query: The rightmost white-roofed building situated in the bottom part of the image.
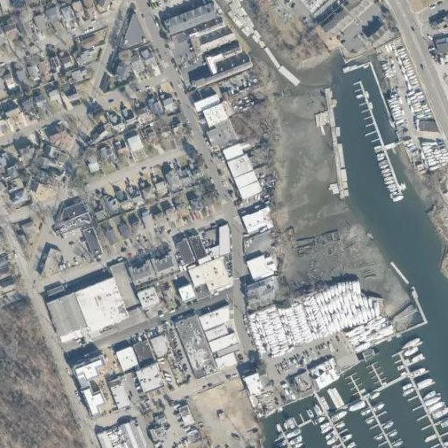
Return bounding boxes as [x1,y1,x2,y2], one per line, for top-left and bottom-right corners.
[311,358,339,390]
